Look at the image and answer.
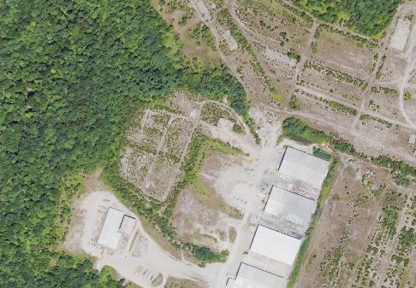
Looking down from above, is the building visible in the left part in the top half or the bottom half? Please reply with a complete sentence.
You can find the building visible in the left part in the bottom half.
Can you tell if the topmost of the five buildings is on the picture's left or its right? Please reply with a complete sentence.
You can find the topmost of the five buildings on the right side of the picture.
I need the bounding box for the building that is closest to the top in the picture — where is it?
[278,146,328,184]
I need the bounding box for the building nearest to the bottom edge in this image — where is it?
[226,262,285,288]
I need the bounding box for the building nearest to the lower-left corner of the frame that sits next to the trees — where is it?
[97,208,137,248]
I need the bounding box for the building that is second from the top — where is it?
[263,184,314,225]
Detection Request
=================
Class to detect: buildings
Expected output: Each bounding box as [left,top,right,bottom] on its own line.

[97,208,137,248]
[249,225,300,266]
[226,262,285,288]
[263,184,314,225]
[278,146,328,184]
